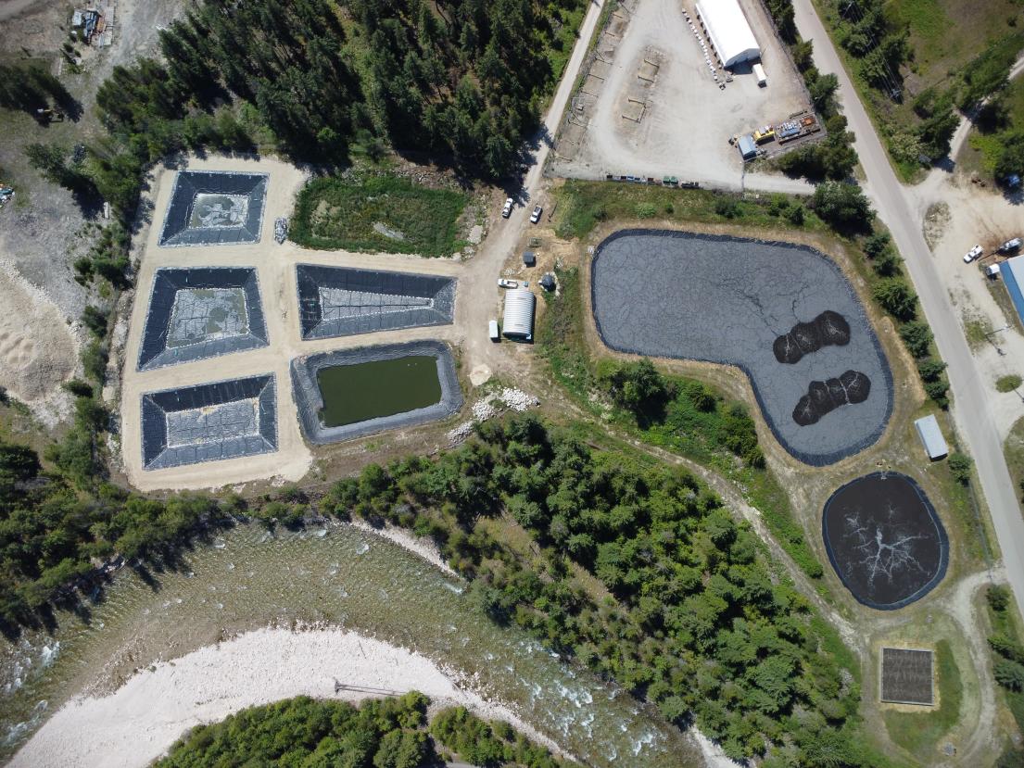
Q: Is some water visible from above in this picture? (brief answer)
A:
Yes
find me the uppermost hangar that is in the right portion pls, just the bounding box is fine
[692,0,760,68]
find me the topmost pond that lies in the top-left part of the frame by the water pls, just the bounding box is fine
[157,169,270,247]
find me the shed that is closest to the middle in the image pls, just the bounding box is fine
[503,290,533,336]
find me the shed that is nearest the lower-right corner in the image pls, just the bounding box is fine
[910,414,948,459]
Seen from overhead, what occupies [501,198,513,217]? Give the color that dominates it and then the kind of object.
white vehicle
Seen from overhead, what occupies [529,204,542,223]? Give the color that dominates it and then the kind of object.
white vehicle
